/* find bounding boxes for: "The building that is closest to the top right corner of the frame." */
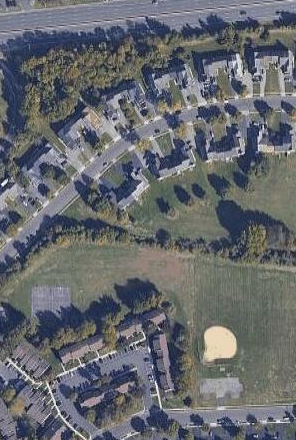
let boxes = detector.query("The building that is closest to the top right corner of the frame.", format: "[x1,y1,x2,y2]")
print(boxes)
[251,54,289,76]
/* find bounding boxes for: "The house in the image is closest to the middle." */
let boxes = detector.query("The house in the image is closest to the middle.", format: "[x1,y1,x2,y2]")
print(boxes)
[107,172,149,211]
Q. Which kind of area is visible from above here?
residential area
